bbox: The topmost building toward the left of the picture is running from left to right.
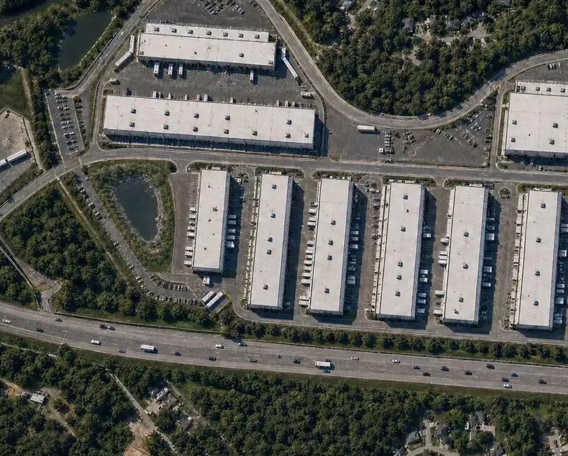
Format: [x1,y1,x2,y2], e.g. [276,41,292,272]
[136,24,280,71]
